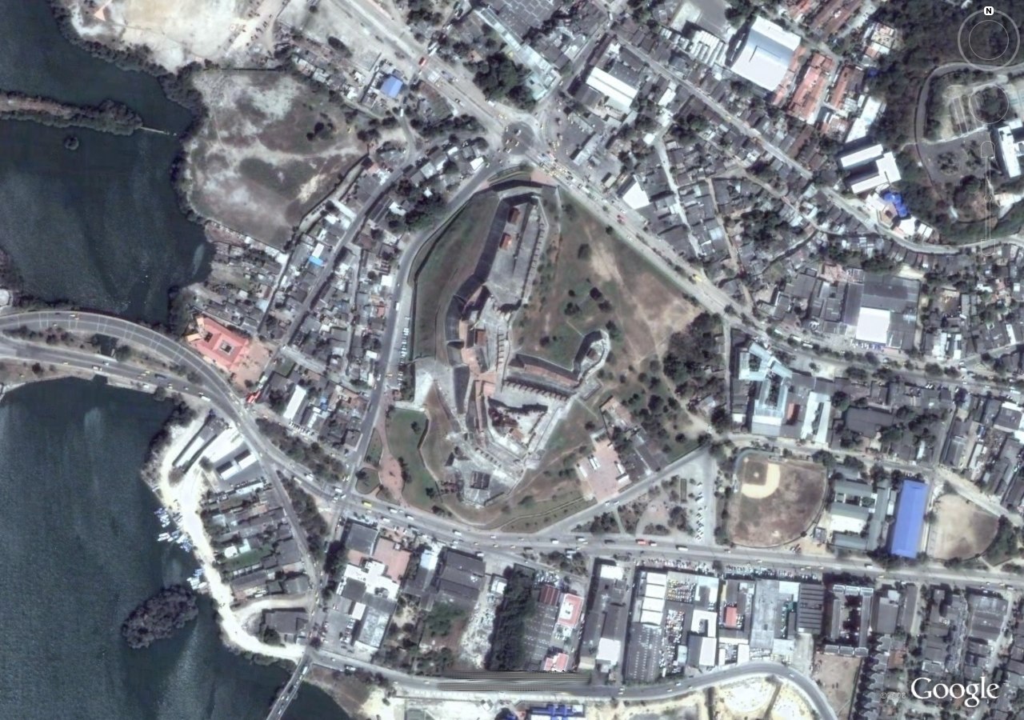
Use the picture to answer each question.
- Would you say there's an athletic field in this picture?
Yes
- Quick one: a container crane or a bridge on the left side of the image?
bridge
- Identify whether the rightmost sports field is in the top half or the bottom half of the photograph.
bottom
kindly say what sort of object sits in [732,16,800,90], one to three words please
building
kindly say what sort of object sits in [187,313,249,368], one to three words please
house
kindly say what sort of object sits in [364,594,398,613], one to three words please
building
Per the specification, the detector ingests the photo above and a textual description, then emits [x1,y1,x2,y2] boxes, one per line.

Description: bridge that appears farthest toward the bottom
[269,644,315,720]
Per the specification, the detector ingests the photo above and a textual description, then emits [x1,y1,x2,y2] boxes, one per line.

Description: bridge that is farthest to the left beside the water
[0,312,246,427]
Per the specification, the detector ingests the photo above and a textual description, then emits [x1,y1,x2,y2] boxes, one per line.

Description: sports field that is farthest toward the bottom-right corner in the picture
[931,494,998,560]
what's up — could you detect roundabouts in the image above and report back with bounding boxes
[497,116,547,157]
